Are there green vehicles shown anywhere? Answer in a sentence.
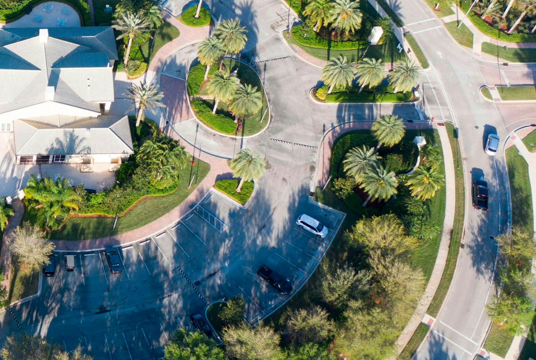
No, this view has no green vehicle in it.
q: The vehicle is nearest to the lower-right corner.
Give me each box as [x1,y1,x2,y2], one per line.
[473,181,489,211]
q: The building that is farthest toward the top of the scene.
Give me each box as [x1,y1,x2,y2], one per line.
[0,26,134,169]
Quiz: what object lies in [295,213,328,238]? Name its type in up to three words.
car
